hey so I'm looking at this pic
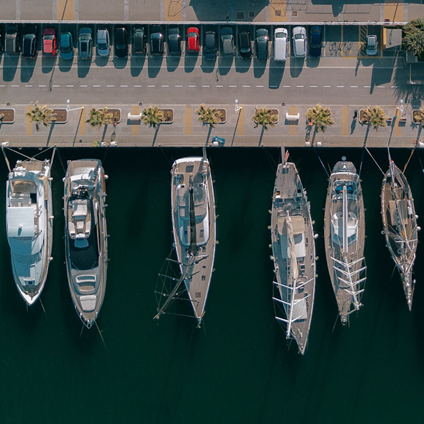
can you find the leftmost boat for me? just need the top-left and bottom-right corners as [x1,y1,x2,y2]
[1,147,56,312]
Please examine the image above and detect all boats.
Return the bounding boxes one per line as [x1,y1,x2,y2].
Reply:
[365,142,422,310]
[1,147,56,312]
[57,149,109,346]
[315,148,372,329]
[149,147,219,343]
[265,146,319,356]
